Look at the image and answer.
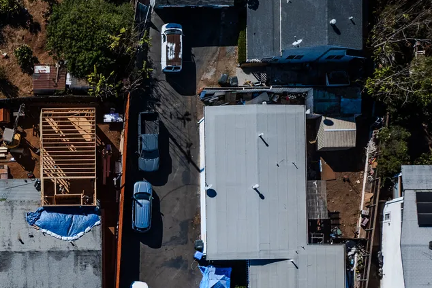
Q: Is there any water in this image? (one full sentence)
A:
No, there is no water in the image.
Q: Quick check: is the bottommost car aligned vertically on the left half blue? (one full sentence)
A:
Yes, blue is the color of the bottommost car aligned vertically on the left half.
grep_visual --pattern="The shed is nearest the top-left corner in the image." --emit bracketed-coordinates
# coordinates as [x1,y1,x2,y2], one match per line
[32,65,66,95]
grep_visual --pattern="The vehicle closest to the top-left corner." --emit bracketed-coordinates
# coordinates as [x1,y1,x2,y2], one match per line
[4,103,27,156]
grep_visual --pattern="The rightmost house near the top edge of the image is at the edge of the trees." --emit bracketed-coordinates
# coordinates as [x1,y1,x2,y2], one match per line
[244,0,364,88]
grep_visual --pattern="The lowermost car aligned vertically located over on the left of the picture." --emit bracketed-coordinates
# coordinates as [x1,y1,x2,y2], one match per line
[131,180,156,233]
